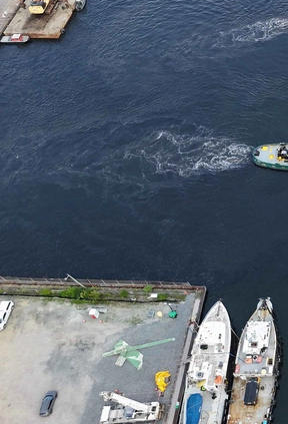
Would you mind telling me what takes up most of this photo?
water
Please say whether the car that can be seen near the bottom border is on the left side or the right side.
left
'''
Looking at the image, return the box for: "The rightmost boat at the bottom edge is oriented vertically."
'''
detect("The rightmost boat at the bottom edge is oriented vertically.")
[215,297,277,424]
